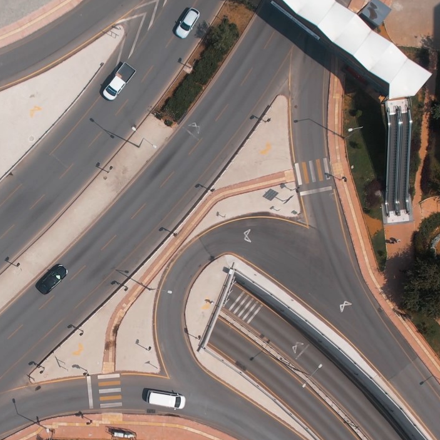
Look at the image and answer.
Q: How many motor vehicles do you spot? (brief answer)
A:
4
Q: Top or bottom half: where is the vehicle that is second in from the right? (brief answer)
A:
bottom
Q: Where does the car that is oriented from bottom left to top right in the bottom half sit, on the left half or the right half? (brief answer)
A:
left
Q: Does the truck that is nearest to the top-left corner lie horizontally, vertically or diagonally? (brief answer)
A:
diagonally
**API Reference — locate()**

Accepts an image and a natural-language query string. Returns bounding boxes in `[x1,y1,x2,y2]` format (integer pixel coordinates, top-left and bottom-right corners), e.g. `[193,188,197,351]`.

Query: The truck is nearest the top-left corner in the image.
[104,61,138,100]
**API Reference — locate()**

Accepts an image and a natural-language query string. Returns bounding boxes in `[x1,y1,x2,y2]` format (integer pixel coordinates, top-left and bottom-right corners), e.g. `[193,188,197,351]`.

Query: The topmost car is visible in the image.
[175,4,202,40]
